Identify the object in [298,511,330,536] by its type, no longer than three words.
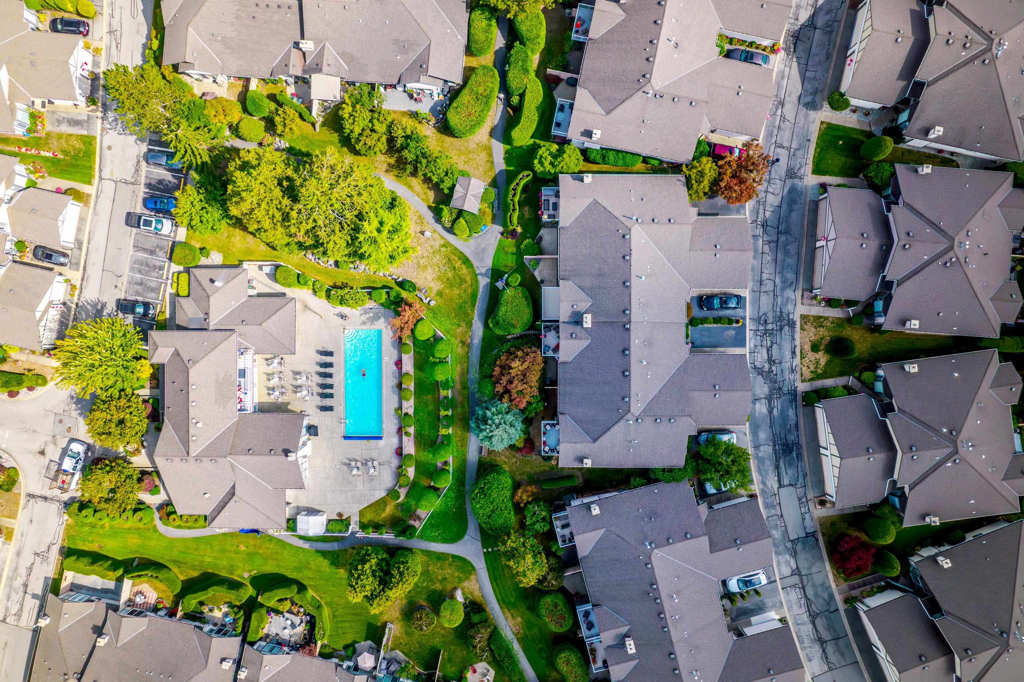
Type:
shed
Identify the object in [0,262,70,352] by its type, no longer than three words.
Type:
house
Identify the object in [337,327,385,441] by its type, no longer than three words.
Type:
swimming pool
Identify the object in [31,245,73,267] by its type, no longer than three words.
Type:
car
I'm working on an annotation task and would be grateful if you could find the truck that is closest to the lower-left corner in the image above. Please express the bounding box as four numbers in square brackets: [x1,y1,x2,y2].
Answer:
[46,435,92,499]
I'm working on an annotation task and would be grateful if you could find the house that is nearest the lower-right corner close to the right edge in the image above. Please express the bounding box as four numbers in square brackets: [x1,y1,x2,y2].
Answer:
[857,517,1024,682]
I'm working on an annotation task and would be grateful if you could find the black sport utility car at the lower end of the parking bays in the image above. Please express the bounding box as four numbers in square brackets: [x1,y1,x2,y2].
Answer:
[117,298,159,318]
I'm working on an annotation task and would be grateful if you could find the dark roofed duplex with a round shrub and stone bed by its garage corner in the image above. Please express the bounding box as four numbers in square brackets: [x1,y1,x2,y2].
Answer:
[841,0,1024,164]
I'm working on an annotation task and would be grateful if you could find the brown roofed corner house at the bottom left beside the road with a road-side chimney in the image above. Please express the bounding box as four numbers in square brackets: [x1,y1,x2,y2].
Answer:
[28,588,120,682]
